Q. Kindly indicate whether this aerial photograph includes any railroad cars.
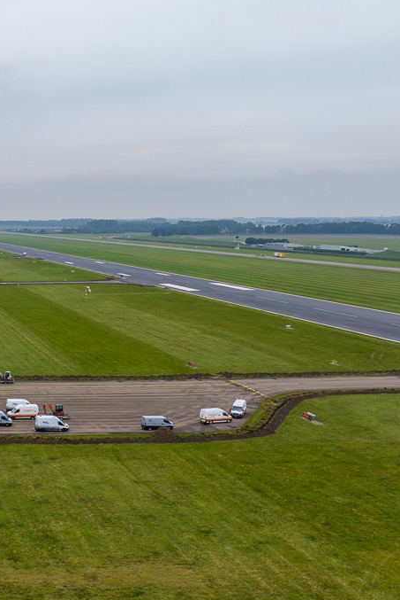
No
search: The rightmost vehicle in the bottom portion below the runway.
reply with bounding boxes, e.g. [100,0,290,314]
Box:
[224,399,243,418]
